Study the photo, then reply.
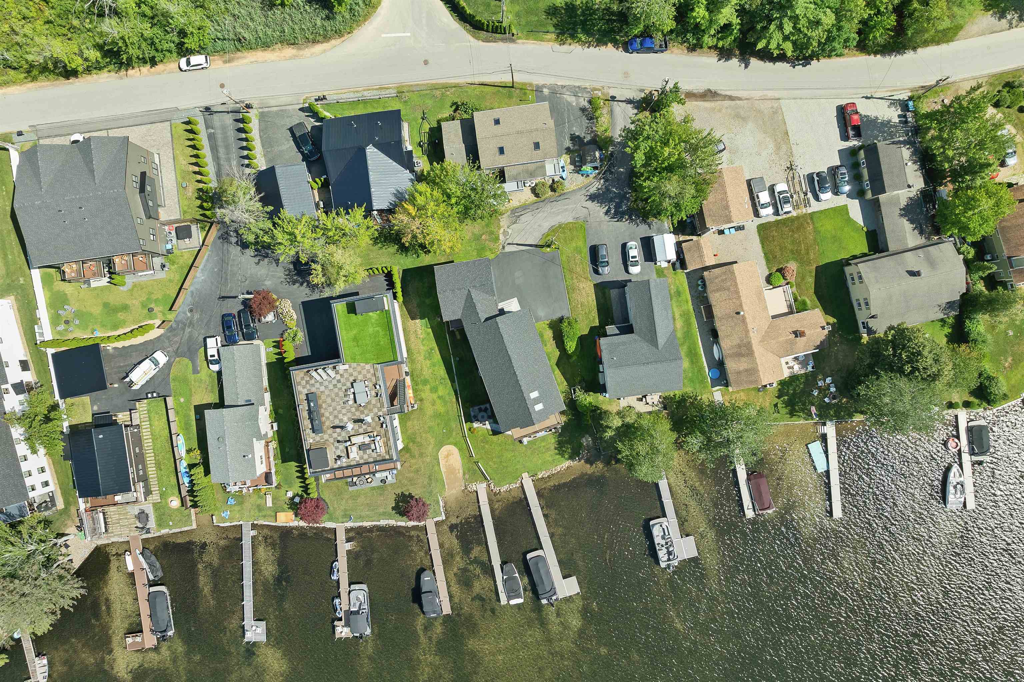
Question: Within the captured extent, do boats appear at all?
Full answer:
Yes, a boat can be made out from above.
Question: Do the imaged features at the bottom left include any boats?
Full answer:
Yes, you'll find a boat at the bottom left.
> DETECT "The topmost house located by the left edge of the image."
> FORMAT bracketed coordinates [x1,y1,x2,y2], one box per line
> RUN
[13,131,166,281]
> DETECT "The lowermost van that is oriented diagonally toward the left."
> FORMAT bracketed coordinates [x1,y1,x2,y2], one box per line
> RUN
[118,349,171,390]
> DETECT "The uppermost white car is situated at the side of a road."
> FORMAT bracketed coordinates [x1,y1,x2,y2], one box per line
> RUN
[178,53,212,72]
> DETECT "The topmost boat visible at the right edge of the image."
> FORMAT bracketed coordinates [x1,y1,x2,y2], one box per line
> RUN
[967,420,991,464]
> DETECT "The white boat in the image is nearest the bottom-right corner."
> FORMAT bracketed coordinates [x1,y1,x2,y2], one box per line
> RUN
[946,463,967,511]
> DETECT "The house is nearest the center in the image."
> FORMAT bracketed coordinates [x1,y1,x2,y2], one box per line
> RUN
[434,257,566,442]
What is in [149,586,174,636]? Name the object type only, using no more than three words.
boat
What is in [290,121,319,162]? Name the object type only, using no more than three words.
truck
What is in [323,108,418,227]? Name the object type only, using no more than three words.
house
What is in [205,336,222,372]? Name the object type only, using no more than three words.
car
